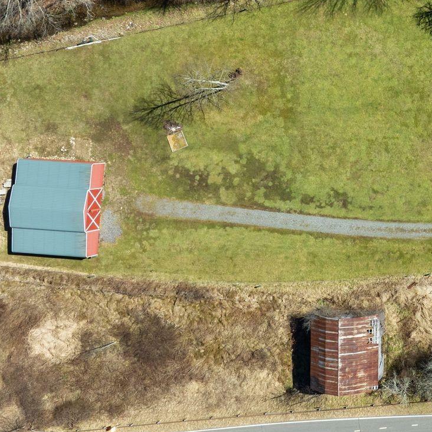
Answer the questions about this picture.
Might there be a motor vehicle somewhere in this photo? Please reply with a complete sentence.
No, there is no motor vehicle in the image.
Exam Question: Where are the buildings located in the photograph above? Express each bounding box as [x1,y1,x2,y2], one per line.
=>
[8,158,106,257]
[310,313,385,397]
